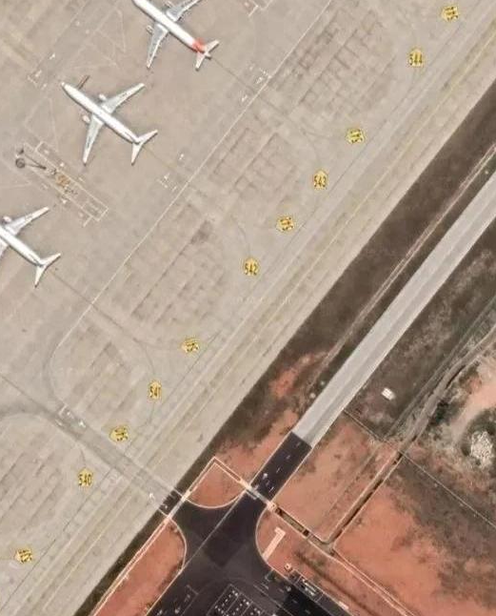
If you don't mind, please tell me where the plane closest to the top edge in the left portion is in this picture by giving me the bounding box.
[132,0,218,69]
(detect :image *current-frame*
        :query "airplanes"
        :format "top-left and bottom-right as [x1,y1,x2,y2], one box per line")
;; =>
[132,0,218,69]
[62,83,156,166]
[0,205,60,283]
